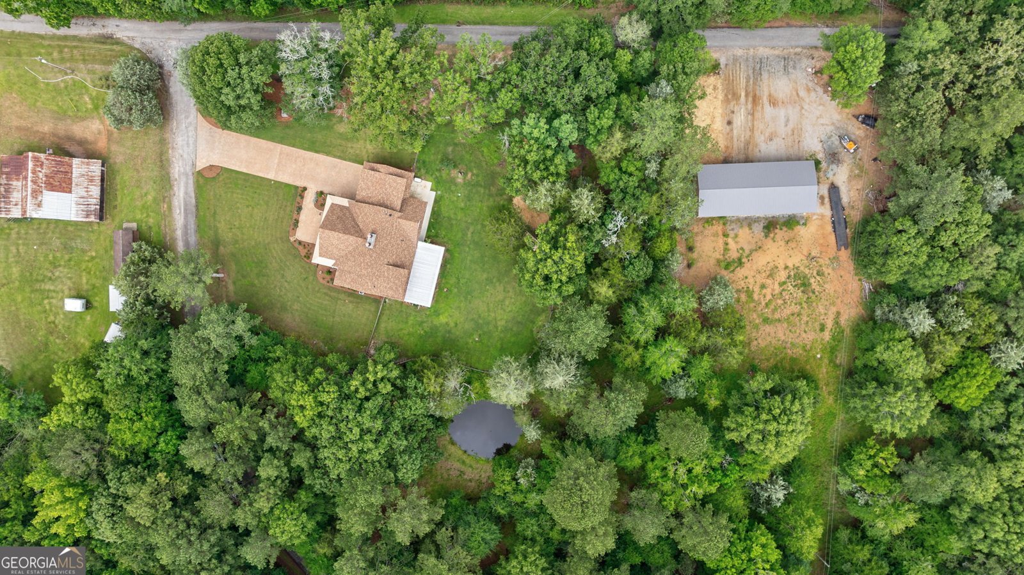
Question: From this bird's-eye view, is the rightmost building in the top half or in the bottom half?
top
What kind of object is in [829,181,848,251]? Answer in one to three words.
trailer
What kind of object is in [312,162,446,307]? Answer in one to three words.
house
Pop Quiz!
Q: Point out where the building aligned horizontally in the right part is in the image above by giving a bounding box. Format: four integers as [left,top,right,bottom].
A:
[693,160,818,219]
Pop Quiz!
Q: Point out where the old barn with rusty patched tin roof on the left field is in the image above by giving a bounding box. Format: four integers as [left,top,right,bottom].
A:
[0,151,111,221]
